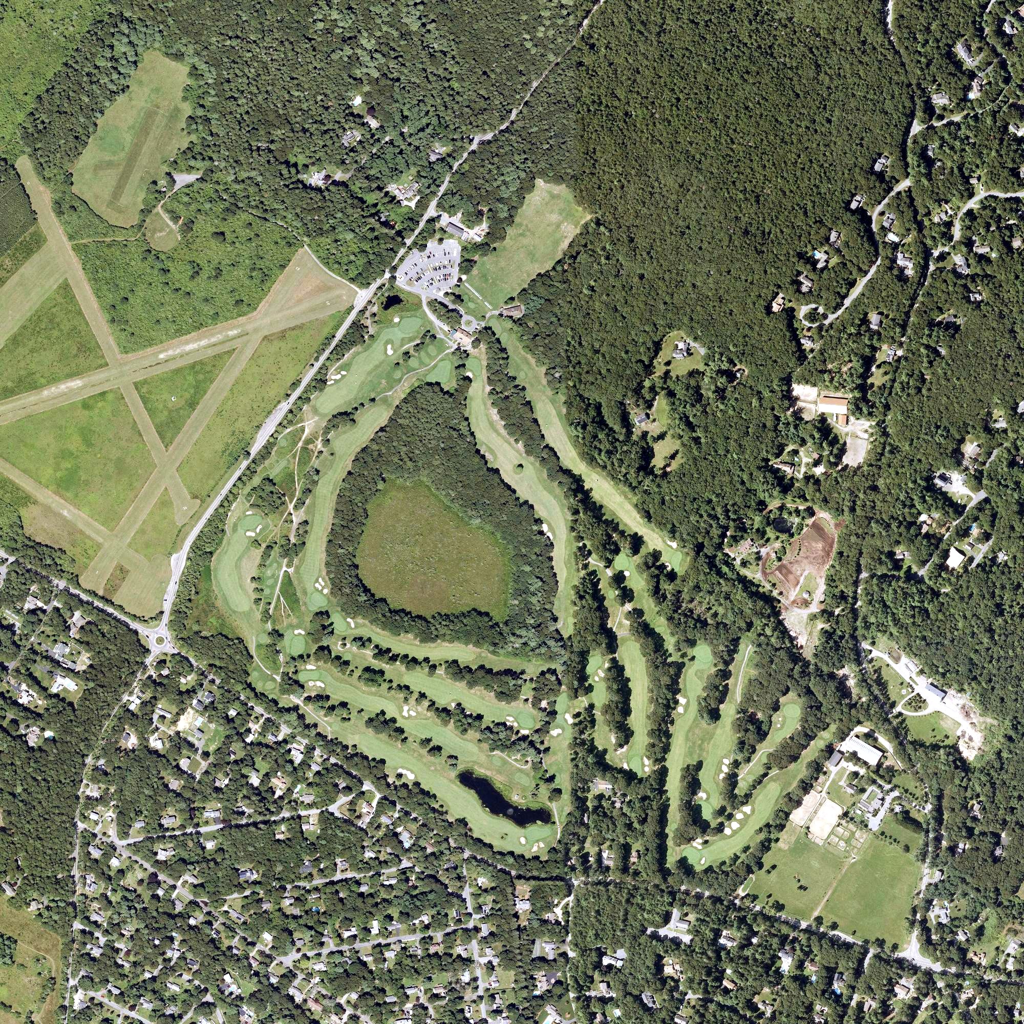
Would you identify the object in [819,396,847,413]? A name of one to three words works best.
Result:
barn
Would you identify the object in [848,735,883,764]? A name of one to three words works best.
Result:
barn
